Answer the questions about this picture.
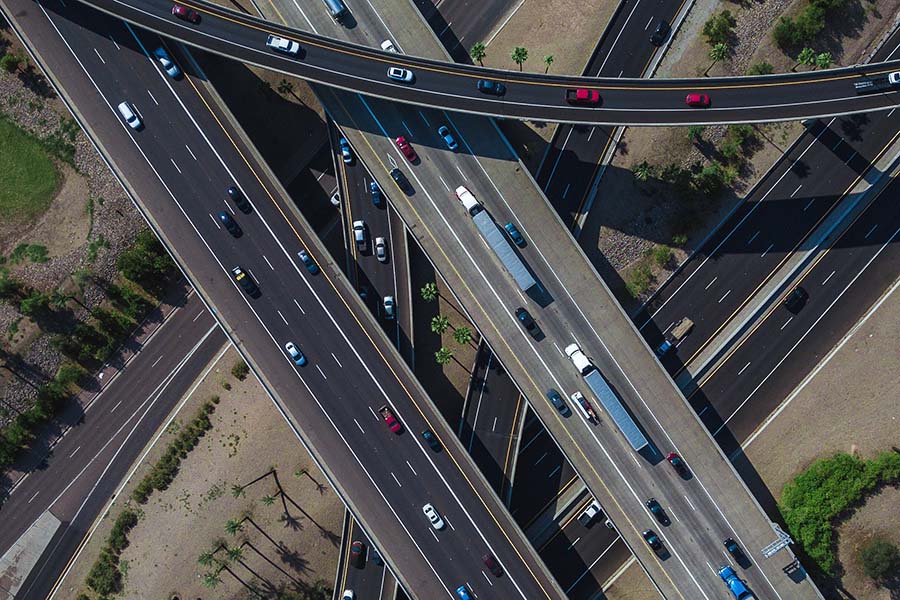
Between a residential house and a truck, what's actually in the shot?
truck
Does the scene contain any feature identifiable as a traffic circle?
No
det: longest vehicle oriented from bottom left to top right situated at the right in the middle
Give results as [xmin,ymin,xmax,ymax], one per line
[655,314,695,356]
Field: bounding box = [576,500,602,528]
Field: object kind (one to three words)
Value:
truck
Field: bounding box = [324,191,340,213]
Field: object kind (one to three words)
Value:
car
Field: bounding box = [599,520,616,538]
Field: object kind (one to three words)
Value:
car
